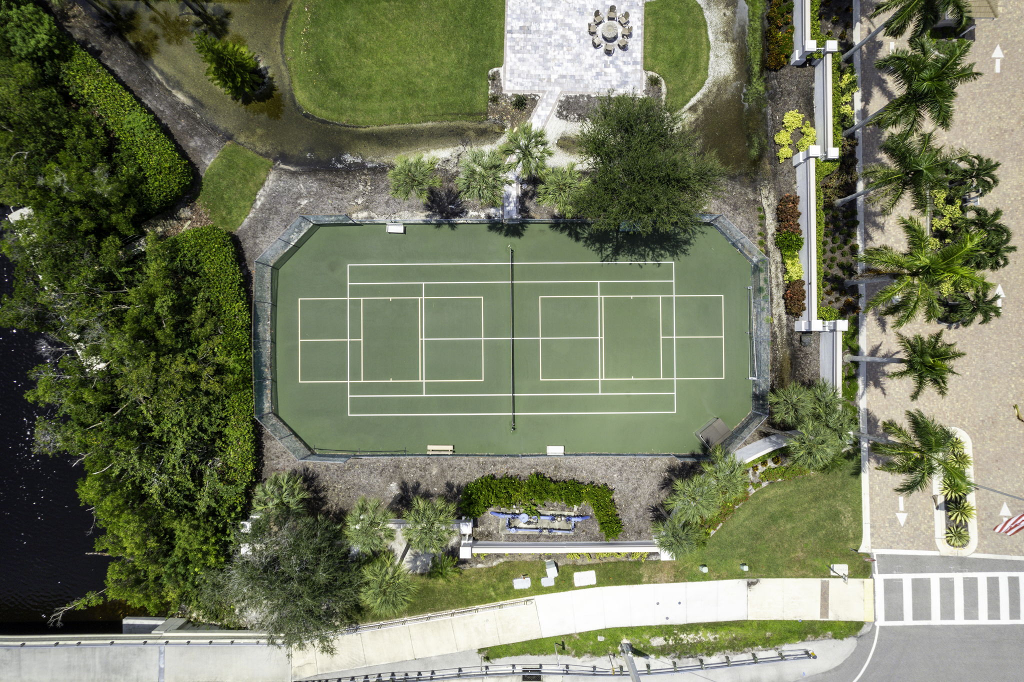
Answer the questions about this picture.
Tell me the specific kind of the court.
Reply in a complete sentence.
The court can be classified as a tennis court.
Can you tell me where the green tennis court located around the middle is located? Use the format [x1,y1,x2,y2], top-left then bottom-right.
[272,224,752,453]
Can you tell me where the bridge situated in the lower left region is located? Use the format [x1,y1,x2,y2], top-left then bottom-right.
[0,612,291,682]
